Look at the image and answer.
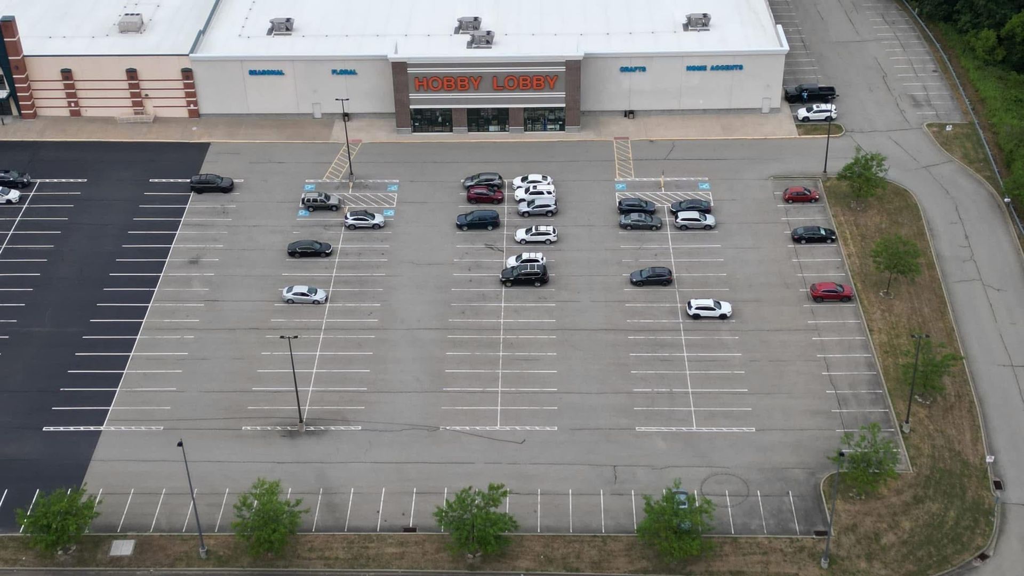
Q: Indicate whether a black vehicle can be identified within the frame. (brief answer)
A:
Yes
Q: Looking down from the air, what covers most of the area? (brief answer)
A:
paved ground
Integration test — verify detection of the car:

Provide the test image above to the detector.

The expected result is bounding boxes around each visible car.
[514,224,558,244]
[287,240,333,258]
[631,266,674,287]
[455,210,500,231]
[807,282,854,303]
[466,185,503,204]
[301,191,342,212]
[512,173,552,187]
[514,181,556,202]
[463,170,503,189]
[0,187,20,203]
[518,198,558,217]
[616,195,657,215]
[782,186,820,203]
[667,197,711,214]
[499,263,547,287]
[0,168,32,188]
[796,103,837,122]
[343,211,386,230]
[673,210,717,230]
[505,249,546,269]
[281,285,327,304]
[190,173,235,194]
[619,213,663,231]
[685,297,732,319]
[792,226,837,244]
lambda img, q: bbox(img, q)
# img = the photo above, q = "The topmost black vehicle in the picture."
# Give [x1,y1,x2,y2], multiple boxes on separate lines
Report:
[783,84,835,103]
